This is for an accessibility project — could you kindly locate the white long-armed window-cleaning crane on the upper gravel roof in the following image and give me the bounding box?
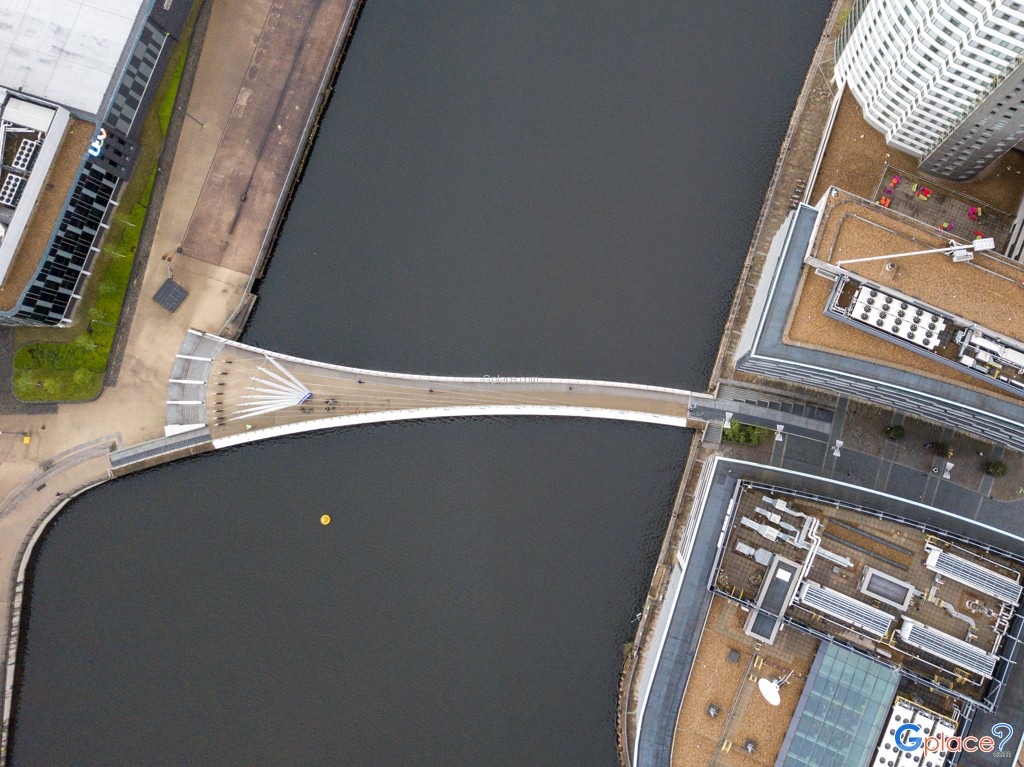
[834,238,994,270]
